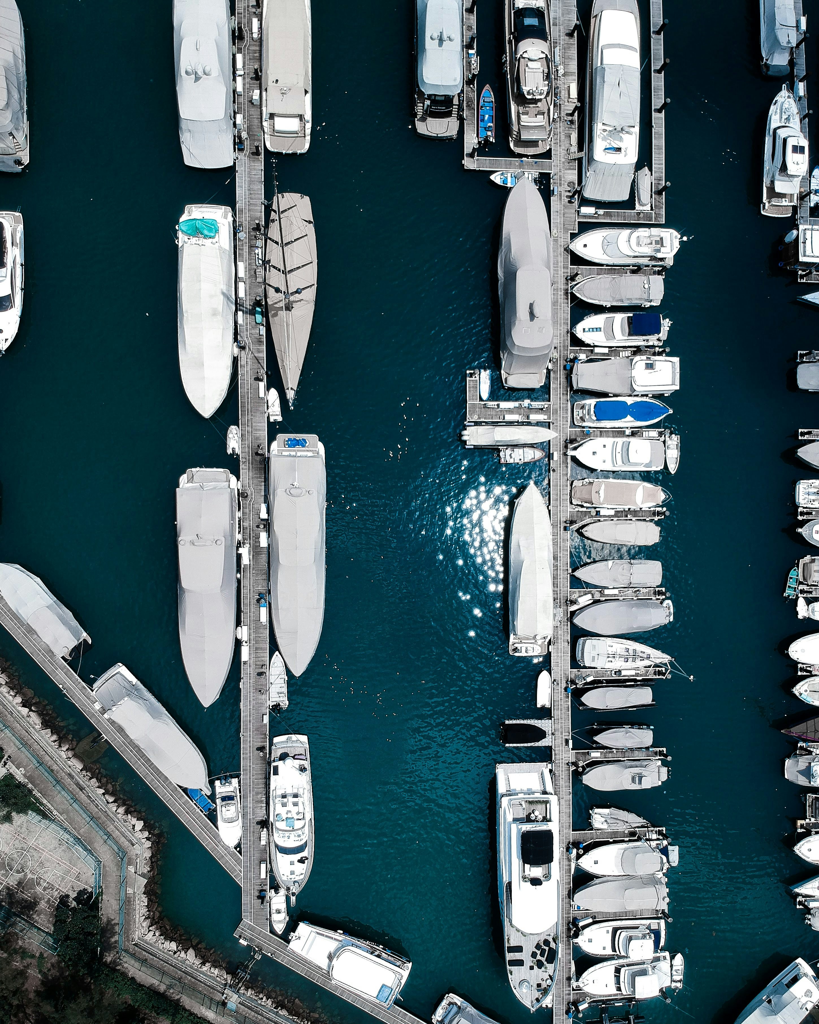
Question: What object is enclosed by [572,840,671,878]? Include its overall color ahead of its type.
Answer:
white boat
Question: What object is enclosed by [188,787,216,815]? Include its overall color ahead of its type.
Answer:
blue boat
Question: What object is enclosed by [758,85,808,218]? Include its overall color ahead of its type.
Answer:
white boat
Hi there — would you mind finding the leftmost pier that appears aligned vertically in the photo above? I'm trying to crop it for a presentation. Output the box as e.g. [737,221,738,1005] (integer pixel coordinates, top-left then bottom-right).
[236,0,269,933]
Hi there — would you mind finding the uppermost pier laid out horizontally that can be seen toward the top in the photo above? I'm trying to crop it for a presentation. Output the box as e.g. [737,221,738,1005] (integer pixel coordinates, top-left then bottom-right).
[476,157,552,173]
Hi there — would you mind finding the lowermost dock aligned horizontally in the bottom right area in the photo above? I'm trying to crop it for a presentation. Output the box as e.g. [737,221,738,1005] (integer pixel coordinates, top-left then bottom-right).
[572,988,666,1008]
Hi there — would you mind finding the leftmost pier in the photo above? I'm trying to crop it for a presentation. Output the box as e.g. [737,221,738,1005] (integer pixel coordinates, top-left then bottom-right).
[0,600,242,886]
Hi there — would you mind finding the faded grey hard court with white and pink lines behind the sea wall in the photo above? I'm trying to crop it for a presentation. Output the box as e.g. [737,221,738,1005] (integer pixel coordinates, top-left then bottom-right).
[0,813,93,938]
